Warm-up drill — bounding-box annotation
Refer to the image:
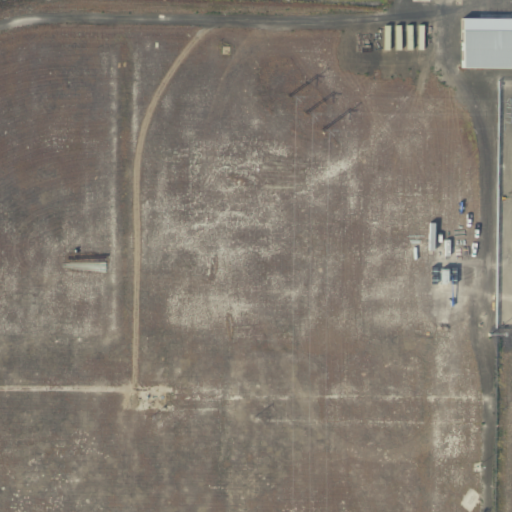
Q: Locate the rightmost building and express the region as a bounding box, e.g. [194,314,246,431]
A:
[460,17,512,69]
